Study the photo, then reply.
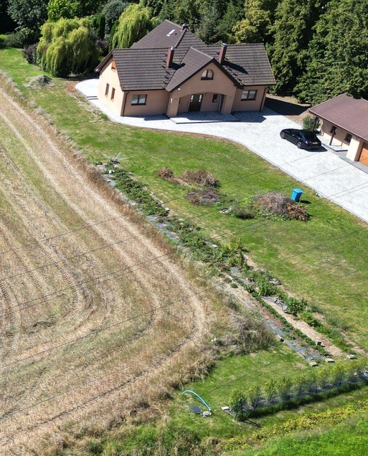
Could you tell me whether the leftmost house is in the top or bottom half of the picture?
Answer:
top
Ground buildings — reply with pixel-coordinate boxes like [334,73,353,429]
[85,16,275,120]
[309,92,368,166]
